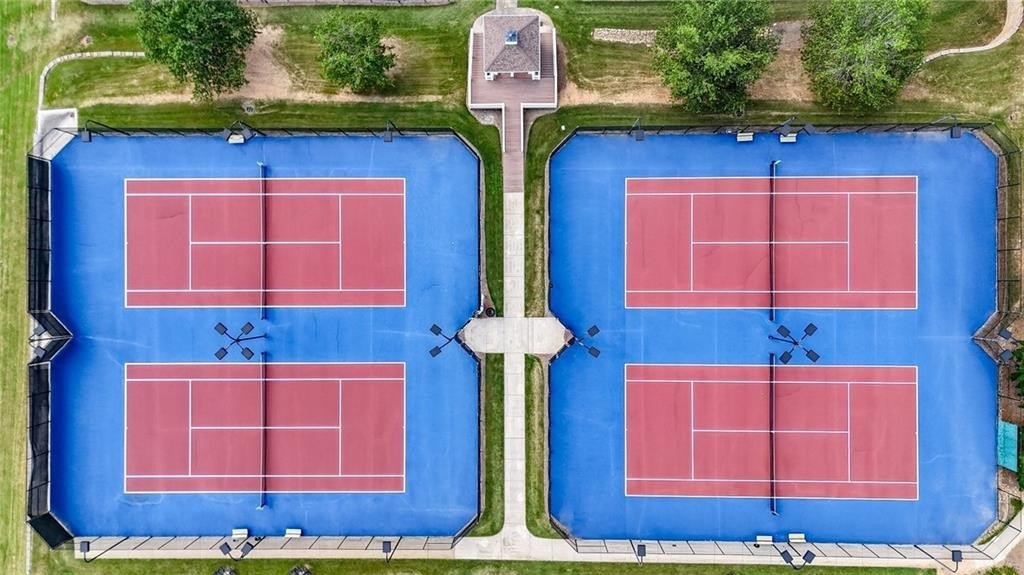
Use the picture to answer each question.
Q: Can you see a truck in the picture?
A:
No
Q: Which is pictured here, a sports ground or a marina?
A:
sports ground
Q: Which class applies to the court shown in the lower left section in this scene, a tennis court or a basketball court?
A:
tennis court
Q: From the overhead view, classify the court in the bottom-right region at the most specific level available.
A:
tennis court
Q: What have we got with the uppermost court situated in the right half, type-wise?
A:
tennis court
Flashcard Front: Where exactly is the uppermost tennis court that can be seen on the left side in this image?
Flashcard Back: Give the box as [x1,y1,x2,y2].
[51,134,479,337]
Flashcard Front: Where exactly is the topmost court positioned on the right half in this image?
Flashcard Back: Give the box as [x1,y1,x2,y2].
[550,131,999,337]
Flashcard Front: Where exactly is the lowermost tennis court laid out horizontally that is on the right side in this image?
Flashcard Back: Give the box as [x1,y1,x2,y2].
[550,337,999,545]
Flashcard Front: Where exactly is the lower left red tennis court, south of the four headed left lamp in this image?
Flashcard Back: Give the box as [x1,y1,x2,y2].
[50,337,480,537]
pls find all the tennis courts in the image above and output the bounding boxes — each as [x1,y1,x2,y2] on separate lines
[51,134,479,337]
[50,337,480,537]
[550,337,999,545]
[550,131,999,337]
